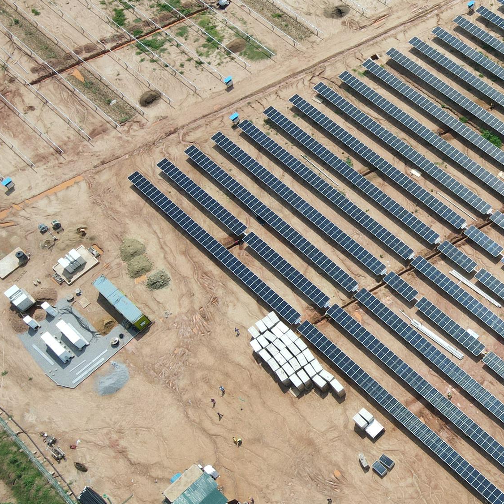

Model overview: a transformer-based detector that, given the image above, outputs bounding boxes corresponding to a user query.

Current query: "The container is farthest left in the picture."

[4,284,34,310]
